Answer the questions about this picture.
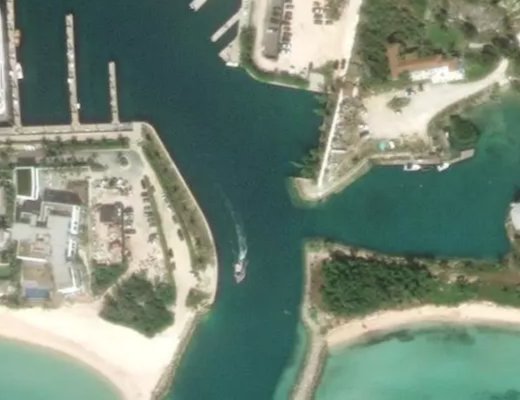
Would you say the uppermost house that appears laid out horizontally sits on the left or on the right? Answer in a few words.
right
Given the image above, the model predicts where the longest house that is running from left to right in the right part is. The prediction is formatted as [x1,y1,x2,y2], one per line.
[388,44,464,83]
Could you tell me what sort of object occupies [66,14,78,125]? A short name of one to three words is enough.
pier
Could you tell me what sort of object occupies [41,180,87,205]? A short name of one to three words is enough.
building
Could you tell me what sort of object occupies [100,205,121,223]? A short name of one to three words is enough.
shed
